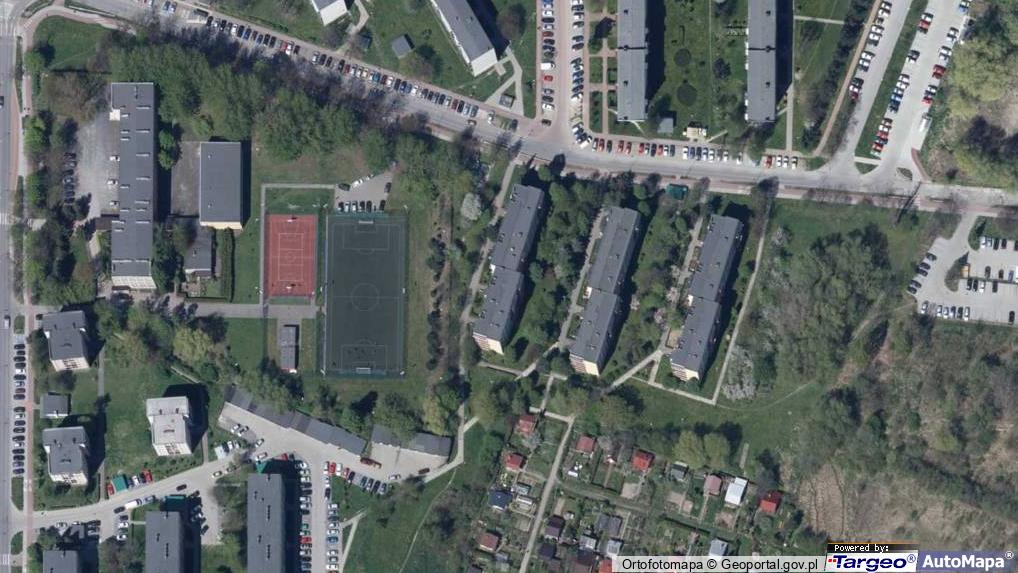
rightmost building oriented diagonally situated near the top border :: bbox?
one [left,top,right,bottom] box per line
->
[427,0,496,77]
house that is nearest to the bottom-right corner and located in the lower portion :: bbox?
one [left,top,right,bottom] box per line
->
[760,492,780,514]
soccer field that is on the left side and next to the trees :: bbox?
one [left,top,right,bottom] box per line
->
[324,213,407,377]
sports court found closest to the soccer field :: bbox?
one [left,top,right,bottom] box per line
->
[265,214,319,303]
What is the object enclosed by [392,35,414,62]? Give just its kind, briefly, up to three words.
shed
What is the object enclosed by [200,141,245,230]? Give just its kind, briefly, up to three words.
building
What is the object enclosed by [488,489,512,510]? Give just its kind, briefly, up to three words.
house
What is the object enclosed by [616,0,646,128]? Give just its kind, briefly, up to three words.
building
